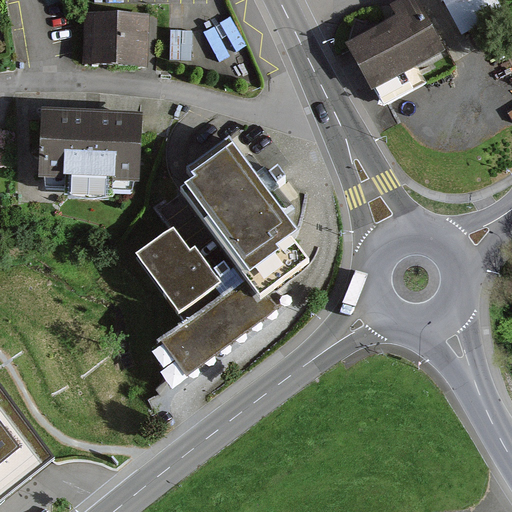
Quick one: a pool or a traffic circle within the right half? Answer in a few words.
traffic circle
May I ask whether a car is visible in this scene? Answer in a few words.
Yes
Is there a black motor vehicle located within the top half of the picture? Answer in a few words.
Yes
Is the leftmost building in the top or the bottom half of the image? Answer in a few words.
bottom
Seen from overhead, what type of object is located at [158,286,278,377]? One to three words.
building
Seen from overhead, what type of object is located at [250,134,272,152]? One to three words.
car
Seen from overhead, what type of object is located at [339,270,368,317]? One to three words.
truck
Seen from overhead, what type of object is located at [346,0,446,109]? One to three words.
house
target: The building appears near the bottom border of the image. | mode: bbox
[0,390,56,507]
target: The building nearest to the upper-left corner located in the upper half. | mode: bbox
[82,10,150,68]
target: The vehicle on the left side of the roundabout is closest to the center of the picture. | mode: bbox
[200,240,218,258]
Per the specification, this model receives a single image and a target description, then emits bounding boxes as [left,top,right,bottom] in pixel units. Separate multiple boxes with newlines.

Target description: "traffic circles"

[336,204,488,364]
